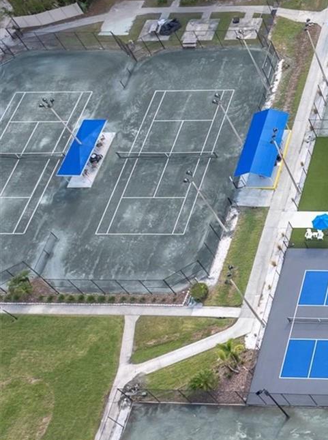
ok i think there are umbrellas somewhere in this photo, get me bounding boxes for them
[312,212,328,233]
